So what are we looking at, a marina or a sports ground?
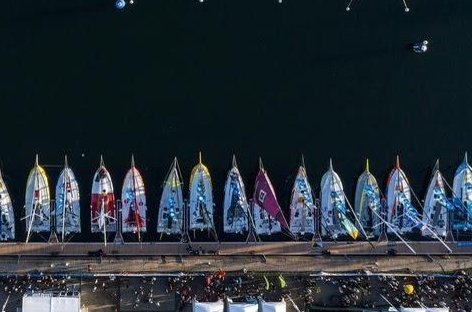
marina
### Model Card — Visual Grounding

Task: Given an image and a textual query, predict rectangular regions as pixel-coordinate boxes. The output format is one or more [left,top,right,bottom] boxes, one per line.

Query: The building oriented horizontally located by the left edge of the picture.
[23,285,80,312]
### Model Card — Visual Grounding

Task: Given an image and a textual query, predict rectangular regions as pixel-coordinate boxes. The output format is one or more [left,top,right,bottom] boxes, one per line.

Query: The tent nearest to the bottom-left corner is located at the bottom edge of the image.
[191,298,223,312]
